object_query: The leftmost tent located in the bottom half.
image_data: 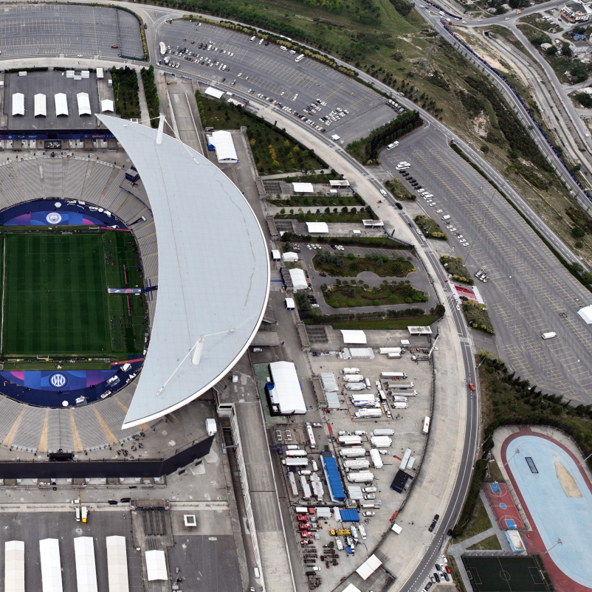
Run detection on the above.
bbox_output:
[4,540,25,592]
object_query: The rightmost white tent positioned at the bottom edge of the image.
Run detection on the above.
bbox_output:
[106,535,129,592]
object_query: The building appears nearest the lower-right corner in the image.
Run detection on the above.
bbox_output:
[502,529,525,554]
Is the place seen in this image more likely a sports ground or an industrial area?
sports ground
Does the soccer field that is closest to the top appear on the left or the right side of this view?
left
